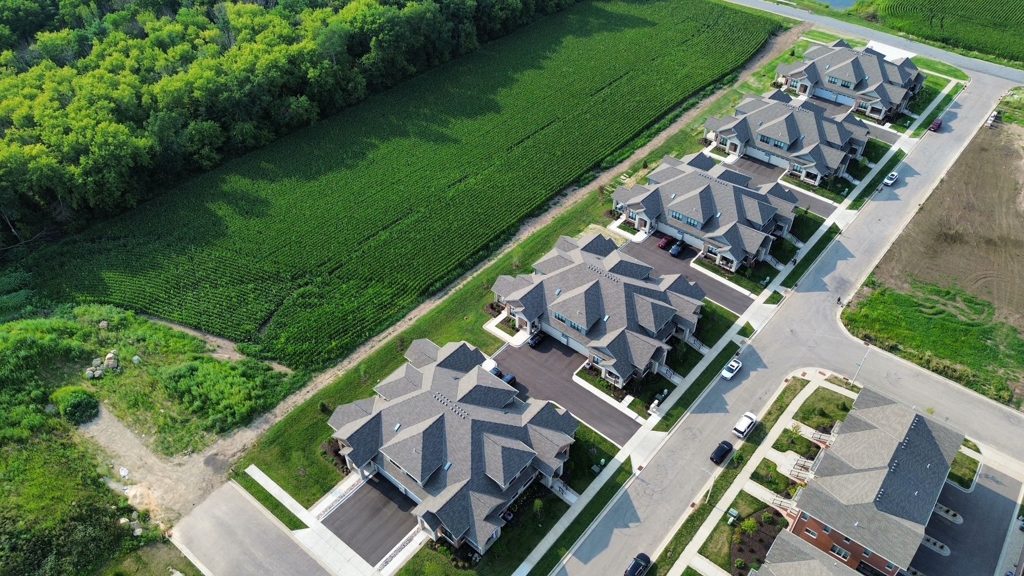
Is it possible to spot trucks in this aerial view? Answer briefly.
No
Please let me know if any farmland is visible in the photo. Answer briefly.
Yes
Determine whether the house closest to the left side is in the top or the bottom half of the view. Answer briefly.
bottom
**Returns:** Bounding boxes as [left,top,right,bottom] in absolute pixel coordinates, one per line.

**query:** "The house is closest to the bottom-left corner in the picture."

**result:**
[323,343,576,559]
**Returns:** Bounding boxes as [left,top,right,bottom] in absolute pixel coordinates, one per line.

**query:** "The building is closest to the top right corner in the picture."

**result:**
[775,38,926,121]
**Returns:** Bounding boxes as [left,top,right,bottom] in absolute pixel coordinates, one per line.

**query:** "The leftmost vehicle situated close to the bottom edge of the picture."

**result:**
[623,545,652,576]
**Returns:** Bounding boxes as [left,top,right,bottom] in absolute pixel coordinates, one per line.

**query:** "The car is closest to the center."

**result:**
[526,330,550,351]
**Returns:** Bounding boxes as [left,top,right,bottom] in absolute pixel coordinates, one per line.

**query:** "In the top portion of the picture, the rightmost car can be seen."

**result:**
[933,115,947,129]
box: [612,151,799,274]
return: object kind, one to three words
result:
house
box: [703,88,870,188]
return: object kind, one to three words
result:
house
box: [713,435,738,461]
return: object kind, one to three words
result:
car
